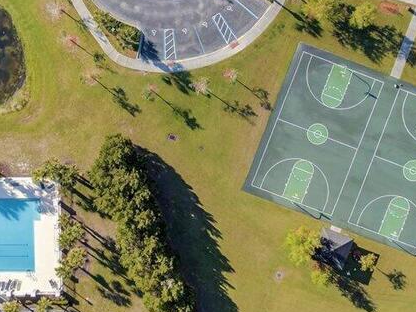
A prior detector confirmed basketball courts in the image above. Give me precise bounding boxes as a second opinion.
[244,43,393,225]
[338,79,416,255]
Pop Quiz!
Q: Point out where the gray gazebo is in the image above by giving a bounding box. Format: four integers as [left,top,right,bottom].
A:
[313,225,353,267]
